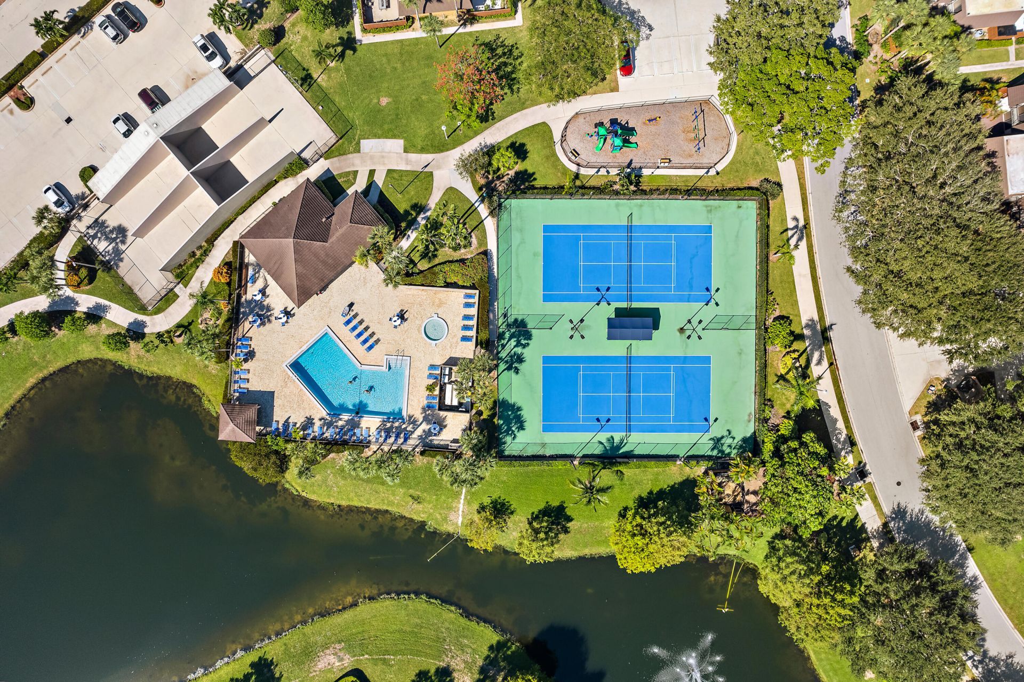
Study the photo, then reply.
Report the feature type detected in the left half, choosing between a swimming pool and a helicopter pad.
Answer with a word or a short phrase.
swimming pool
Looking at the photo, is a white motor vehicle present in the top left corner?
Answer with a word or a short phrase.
Yes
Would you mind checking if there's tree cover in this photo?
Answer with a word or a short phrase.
Yes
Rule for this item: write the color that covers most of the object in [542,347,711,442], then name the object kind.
blue tennis court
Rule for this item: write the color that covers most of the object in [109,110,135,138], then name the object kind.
white car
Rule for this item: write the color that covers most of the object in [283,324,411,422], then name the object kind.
blue swimming pool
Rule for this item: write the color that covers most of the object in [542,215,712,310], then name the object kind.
blue tennis court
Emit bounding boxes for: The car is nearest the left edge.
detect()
[42,182,73,213]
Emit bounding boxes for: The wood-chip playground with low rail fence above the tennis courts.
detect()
[563,99,732,167]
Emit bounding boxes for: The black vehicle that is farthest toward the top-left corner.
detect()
[111,1,144,35]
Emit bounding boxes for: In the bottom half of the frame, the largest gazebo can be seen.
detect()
[217,403,262,443]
